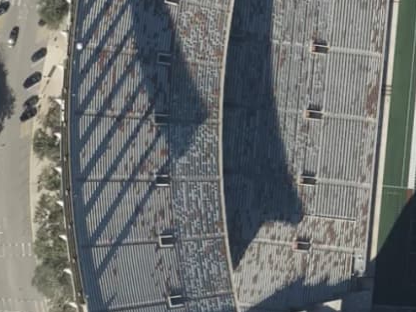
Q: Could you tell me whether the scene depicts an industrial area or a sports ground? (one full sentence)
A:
This image shows a sports ground.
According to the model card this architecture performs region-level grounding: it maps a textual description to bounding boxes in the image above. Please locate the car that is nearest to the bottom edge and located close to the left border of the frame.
[20,107,36,122]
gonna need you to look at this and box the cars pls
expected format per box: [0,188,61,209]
[9,26,18,44]
[25,72,40,86]
[20,107,36,122]
[31,47,47,62]
[25,93,40,108]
